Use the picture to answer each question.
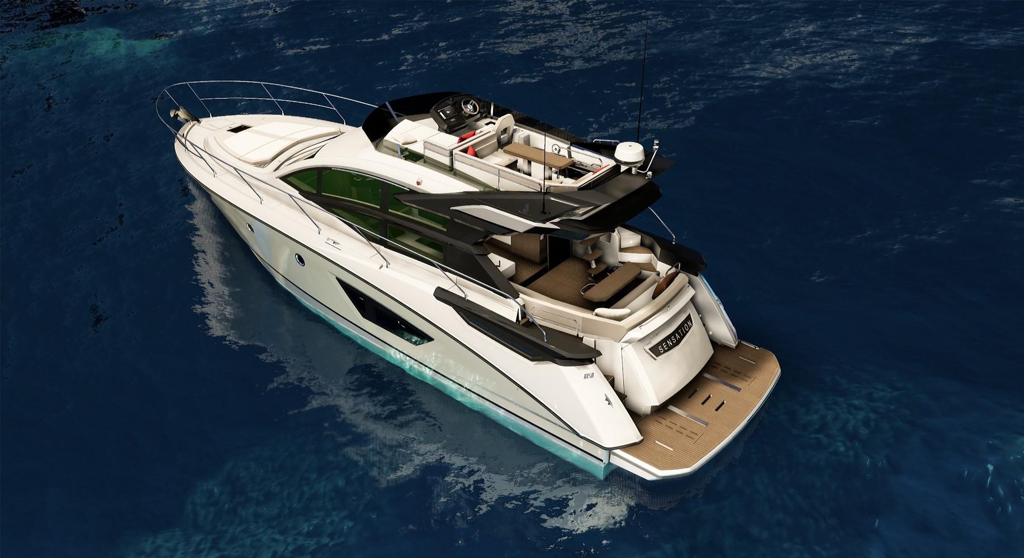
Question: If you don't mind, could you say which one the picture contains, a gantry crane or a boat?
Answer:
boat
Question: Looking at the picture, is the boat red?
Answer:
No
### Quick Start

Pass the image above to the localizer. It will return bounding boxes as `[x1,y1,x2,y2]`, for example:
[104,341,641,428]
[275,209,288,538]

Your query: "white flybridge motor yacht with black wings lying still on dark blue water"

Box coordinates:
[156,20,787,488]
